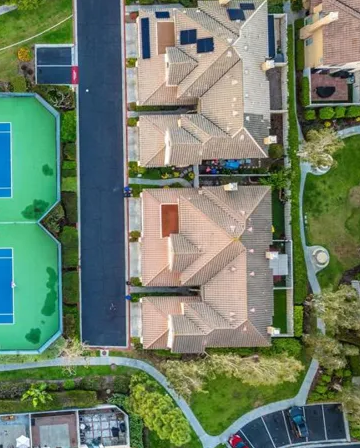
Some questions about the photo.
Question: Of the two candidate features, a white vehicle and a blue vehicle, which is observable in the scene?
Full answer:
The image shows a blue vehicle.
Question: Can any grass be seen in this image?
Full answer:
Yes, there is grass in the image.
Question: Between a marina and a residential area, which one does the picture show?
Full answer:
The picture captures a residential area.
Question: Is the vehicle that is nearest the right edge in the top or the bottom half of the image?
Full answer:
The vehicle that is nearest the right edge is in the bottom half of the image.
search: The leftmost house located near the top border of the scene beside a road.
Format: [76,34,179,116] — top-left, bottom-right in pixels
[135,0,278,167]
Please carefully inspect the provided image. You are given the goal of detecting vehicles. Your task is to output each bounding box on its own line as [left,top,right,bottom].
[287,404,312,441]
[231,435,252,448]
